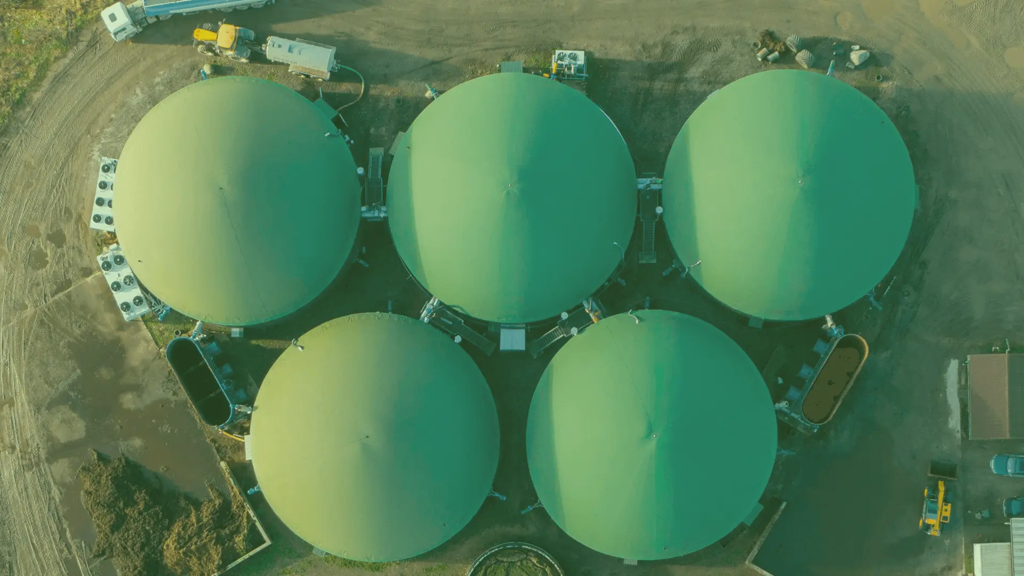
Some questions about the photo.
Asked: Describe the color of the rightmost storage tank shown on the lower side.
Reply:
green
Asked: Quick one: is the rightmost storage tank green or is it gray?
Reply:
green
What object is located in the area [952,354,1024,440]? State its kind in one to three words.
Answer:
shed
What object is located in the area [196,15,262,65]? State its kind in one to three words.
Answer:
work vehicle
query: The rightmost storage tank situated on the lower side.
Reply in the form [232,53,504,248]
[526,309,777,561]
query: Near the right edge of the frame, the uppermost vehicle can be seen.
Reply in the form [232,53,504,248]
[988,453,1024,478]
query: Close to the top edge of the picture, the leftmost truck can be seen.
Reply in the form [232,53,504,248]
[99,0,174,48]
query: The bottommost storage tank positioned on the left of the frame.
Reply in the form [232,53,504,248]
[250,312,502,562]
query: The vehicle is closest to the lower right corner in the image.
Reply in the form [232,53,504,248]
[1001,494,1024,518]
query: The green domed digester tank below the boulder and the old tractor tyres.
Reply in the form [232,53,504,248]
[659,69,915,326]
